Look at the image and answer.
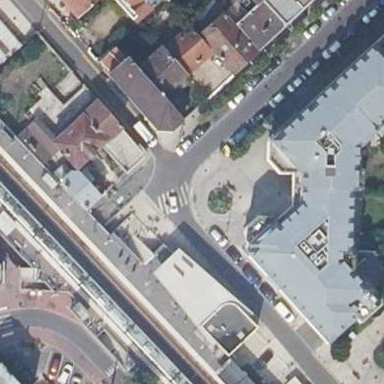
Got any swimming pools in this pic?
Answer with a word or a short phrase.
No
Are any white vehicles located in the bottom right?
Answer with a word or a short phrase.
Yes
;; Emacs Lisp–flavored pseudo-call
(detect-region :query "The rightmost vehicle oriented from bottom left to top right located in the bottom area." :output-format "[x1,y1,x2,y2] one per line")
[256,345,276,365]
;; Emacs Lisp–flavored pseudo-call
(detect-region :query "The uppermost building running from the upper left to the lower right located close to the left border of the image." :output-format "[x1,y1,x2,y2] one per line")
[0,0,31,35]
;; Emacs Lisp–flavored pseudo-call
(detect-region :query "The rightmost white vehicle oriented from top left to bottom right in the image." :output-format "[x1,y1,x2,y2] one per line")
[275,300,295,320]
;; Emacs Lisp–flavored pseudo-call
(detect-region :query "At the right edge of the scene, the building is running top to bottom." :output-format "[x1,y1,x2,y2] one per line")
[246,32,384,346]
